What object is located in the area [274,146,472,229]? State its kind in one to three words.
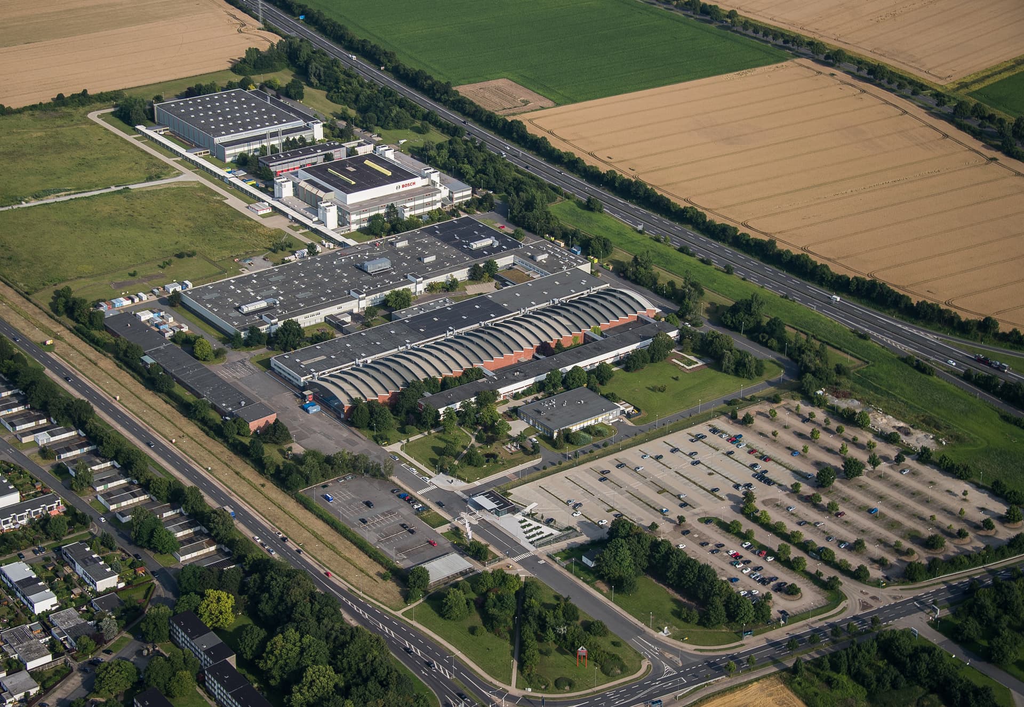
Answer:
building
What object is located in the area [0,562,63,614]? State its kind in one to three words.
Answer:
house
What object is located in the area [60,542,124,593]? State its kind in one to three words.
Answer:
house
